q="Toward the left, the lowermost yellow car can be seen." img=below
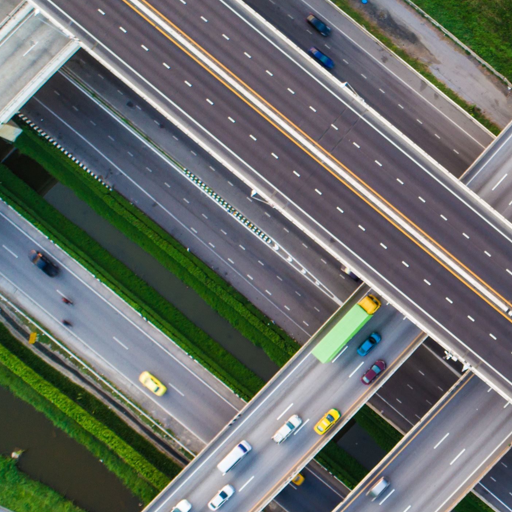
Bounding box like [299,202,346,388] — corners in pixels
[138,370,169,398]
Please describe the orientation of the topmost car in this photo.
on a diagonal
